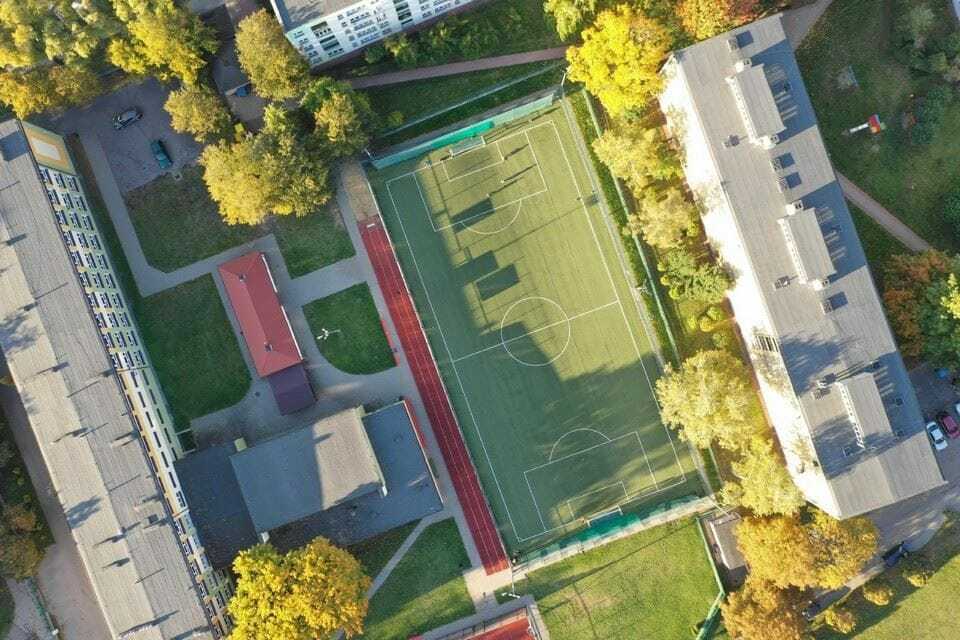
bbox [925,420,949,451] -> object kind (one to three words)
car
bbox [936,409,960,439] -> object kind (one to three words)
car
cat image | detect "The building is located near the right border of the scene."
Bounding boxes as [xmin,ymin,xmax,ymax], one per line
[653,13,946,519]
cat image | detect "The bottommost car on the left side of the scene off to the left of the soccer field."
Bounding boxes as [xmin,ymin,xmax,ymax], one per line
[150,139,173,169]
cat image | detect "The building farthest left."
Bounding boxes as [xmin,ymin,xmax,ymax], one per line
[0,113,250,640]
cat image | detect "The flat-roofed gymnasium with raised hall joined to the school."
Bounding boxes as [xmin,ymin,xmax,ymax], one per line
[172,396,444,571]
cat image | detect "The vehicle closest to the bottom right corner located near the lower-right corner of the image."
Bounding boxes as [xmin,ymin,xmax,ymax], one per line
[878,538,911,565]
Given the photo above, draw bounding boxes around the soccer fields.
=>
[366,98,715,569]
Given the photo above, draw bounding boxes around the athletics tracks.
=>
[357,216,510,575]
